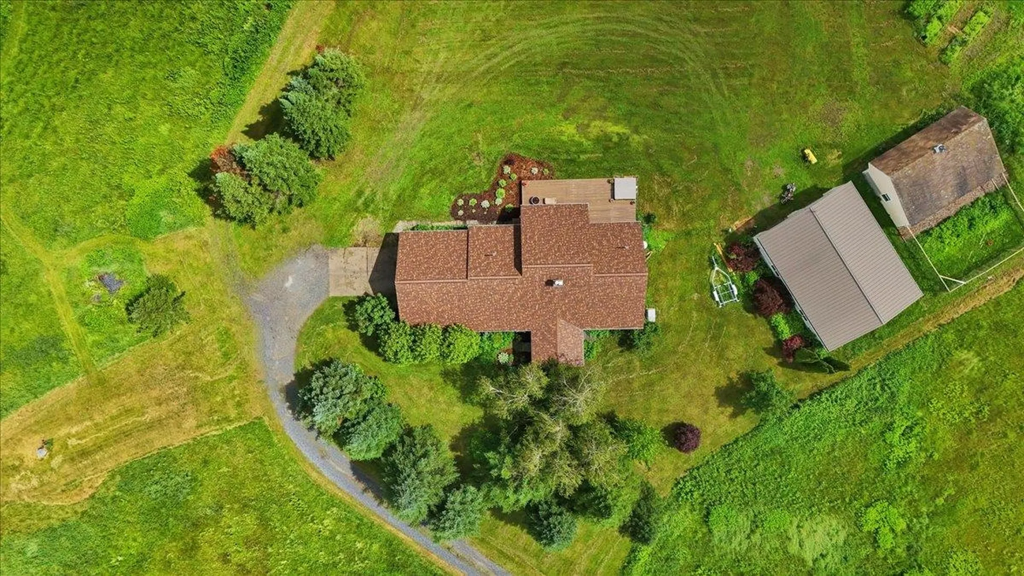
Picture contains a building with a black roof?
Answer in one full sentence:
No, no building with a black roof is visible in the scene.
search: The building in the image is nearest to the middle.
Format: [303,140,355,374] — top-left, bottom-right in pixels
[393,203,648,366]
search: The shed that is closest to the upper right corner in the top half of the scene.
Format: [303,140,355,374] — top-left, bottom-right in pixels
[862,108,1005,227]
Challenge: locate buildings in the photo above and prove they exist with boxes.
[862,108,1005,227]
[393,203,648,366]
[753,179,923,353]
